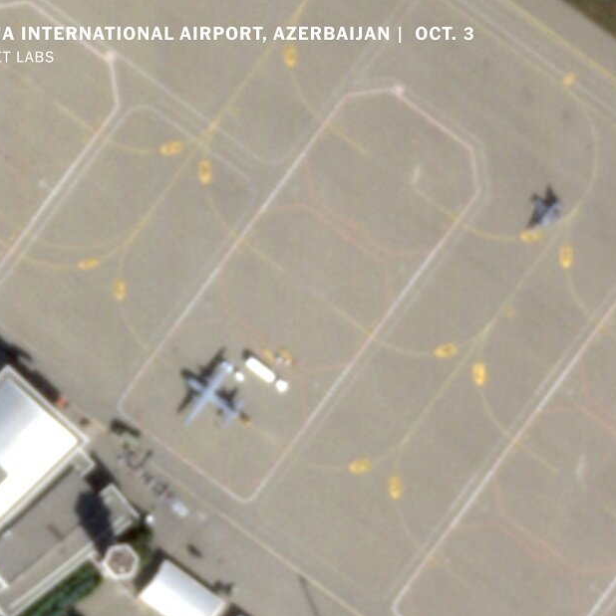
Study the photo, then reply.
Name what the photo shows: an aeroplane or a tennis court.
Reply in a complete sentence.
It is an aeroplane that can be seen here.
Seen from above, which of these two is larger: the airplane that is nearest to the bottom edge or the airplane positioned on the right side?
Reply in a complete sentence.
The airplane positioned on the right side is smaller than the airplane that is nearest to the bottom edge.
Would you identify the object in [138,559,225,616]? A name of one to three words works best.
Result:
hangar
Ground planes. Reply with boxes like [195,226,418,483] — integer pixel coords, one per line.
[185,364,243,428]
[530,195,568,231]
